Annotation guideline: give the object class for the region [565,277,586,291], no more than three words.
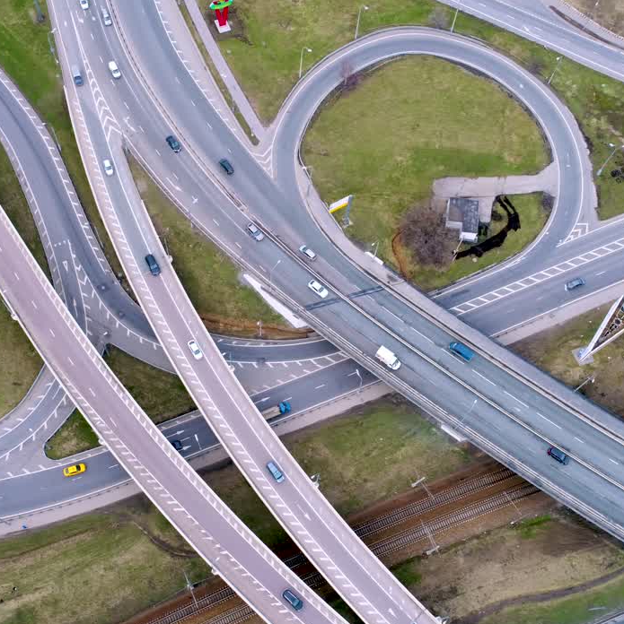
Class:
vehicle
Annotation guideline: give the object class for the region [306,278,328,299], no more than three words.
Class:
car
